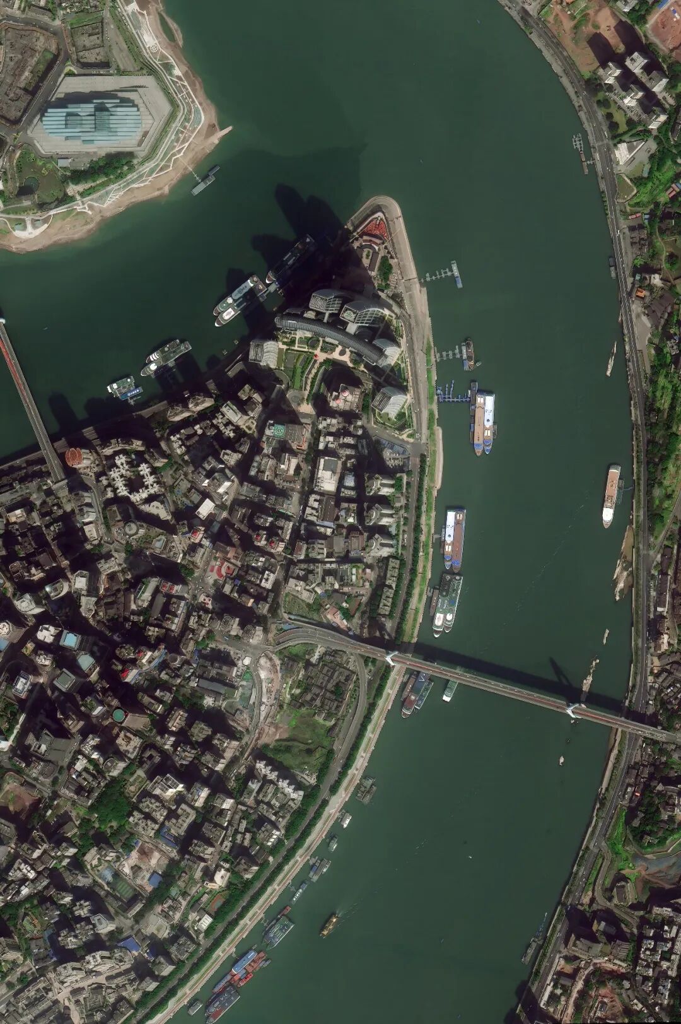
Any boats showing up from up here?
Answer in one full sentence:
Yes, the photo shows a boat.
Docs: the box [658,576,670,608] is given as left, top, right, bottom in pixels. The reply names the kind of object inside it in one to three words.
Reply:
house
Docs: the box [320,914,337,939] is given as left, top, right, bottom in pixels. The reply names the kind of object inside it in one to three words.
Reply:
ship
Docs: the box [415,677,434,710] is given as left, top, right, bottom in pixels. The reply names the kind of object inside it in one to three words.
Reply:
boat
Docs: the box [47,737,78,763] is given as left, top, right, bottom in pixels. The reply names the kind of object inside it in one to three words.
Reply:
building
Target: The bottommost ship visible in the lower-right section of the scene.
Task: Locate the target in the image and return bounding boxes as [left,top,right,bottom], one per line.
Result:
[521,938,536,965]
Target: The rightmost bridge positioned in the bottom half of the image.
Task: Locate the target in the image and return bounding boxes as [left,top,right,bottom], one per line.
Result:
[280,630,681,743]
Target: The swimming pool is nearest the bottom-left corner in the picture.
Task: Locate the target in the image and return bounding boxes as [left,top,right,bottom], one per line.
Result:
[99,862,114,881]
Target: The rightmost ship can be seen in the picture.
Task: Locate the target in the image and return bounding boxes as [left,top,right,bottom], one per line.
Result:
[603,464,622,529]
